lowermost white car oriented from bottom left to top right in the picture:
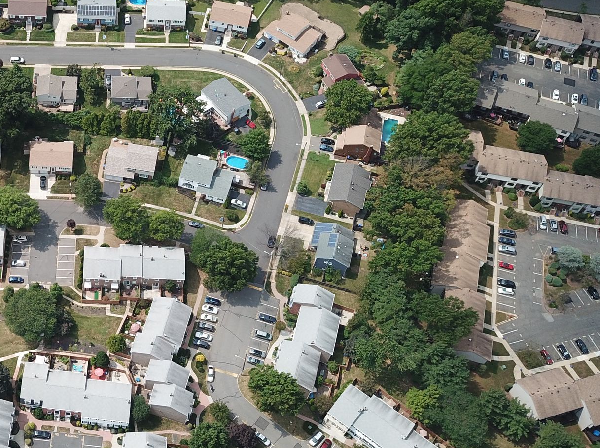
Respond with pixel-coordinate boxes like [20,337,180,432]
[308,428,324,448]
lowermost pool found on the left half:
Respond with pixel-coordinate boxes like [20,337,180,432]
[225,156,249,171]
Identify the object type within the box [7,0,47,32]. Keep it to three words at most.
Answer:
house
